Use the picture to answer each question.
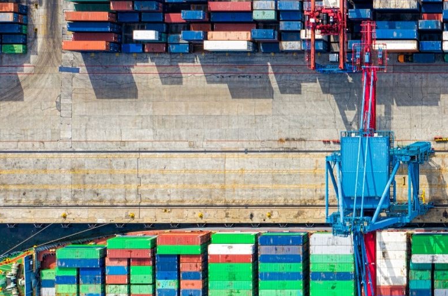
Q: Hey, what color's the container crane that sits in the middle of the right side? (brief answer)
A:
blue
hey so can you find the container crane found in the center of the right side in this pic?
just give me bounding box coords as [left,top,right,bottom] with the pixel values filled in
[324,20,436,296]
